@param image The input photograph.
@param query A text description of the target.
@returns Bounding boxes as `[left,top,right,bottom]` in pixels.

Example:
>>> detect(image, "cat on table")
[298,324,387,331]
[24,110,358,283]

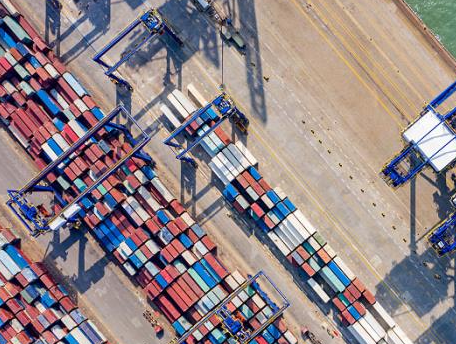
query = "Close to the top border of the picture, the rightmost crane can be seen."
[92,9,183,92]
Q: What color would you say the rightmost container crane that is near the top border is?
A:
blue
